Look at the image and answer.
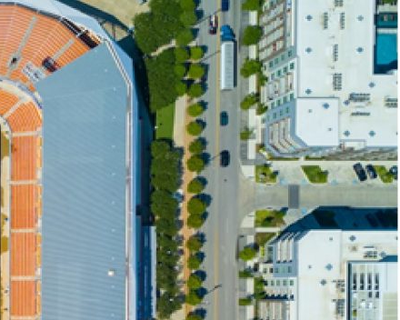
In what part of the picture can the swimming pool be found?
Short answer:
top right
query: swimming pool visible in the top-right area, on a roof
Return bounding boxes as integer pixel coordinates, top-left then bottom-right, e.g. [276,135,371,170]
[375,0,400,73]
